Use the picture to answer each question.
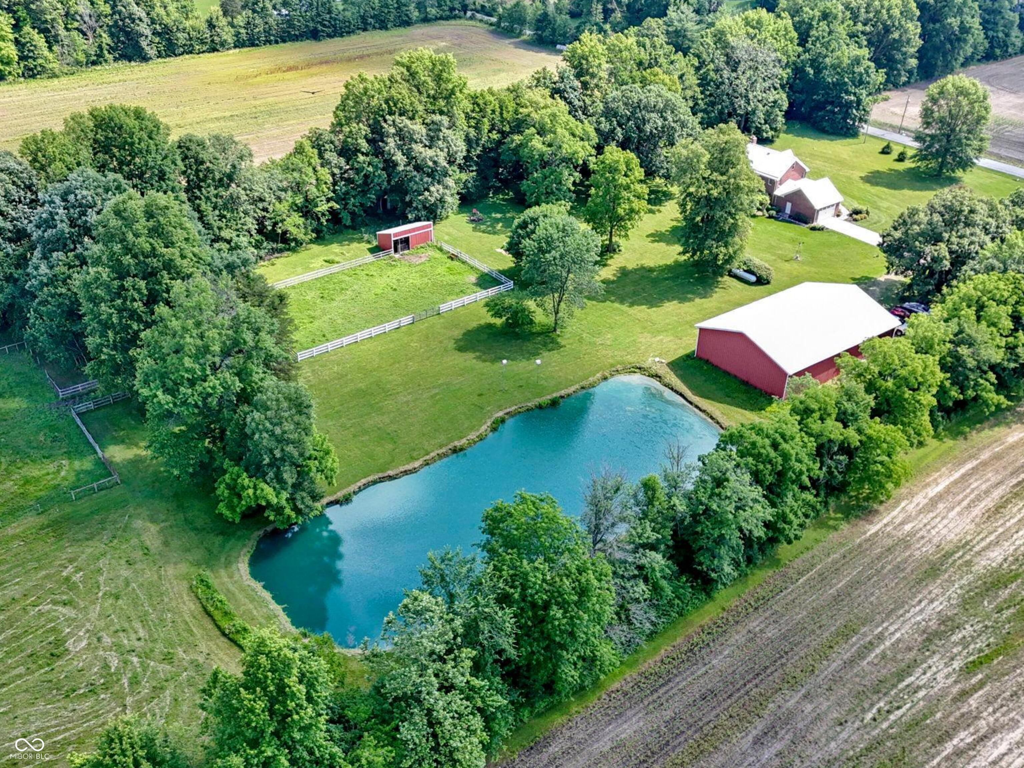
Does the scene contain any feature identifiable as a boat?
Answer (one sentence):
No, I can see no boat in this picture.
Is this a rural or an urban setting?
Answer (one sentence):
The area shown here is rural.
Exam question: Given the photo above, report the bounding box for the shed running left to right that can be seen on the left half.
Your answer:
[378,220,434,255]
